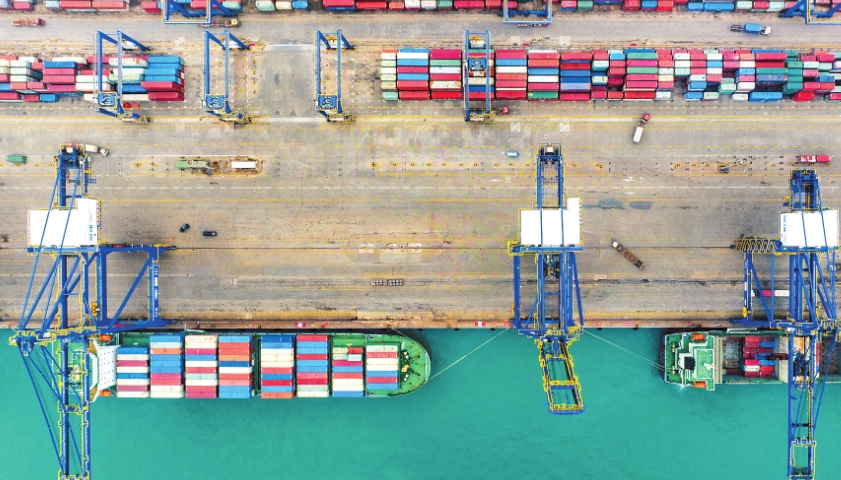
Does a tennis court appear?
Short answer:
No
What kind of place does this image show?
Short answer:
port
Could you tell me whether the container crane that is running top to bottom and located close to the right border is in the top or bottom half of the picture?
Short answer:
bottom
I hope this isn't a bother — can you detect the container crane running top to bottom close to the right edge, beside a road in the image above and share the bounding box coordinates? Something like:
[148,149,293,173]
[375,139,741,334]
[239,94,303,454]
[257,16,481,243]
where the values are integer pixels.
[729,169,841,480]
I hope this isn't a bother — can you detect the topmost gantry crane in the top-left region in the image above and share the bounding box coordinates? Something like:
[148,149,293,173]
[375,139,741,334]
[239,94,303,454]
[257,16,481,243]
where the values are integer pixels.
[162,0,237,25]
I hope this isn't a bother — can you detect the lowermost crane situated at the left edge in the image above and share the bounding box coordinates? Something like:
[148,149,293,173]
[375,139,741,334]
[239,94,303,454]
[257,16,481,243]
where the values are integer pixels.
[8,145,173,480]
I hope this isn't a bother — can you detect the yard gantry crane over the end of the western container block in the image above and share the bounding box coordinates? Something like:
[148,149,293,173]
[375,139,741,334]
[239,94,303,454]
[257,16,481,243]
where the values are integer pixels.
[92,30,158,122]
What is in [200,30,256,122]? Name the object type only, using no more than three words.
container crane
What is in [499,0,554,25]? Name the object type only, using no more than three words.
container crane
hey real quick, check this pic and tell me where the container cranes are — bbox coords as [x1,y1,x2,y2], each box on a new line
[506,147,583,417]
[499,0,554,25]
[92,30,158,122]
[162,0,237,25]
[729,169,841,480]
[782,0,841,25]
[459,30,499,122]
[8,145,173,480]
[311,30,361,122]
[200,30,256,122]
